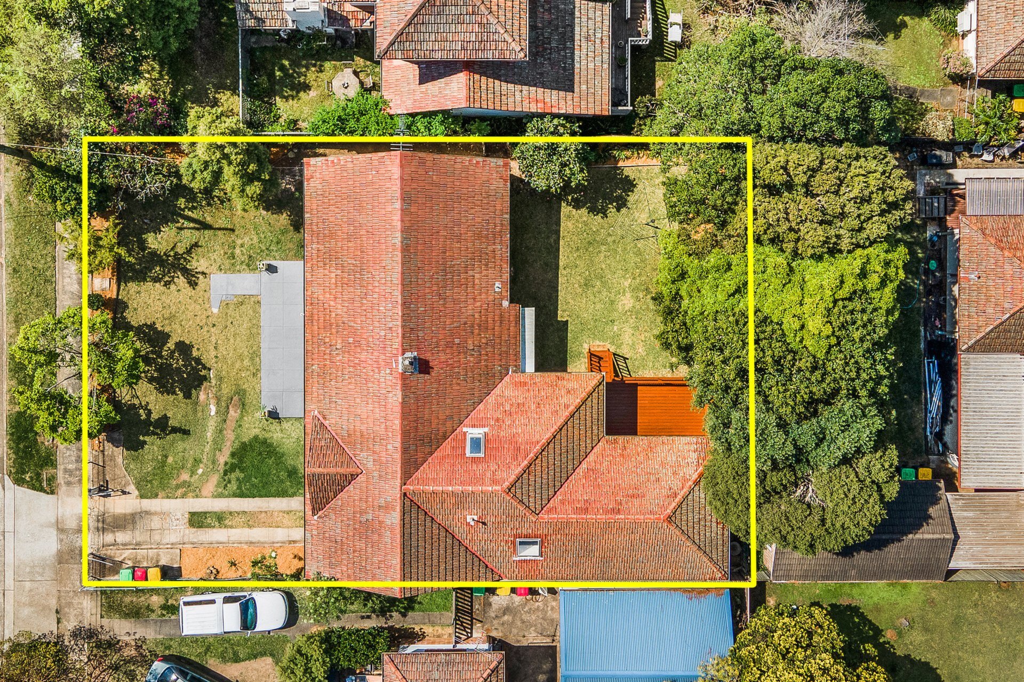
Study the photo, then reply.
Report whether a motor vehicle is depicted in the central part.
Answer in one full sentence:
No, in the central part there is no motor vehicle.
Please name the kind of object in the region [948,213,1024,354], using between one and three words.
house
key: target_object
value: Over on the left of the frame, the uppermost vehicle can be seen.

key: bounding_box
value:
[177,591,289,640]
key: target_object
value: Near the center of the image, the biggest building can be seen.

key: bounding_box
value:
[301,150,731,598]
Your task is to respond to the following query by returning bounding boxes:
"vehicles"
[177,591,289,640]
[140,655,227,682]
